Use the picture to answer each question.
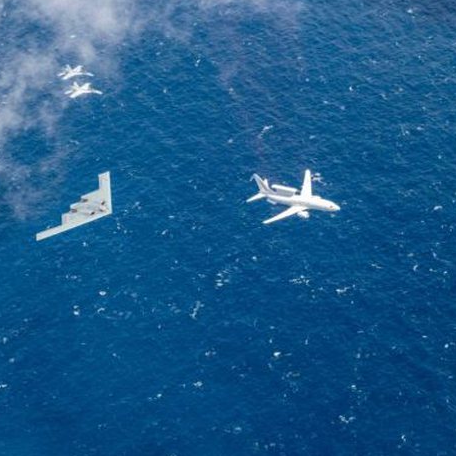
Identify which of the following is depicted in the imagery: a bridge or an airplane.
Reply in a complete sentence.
It is an airplane that can be seen here.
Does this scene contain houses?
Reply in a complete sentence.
No, I can't see a single house in this photo.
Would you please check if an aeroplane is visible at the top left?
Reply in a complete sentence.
Yes, the scene does show an aeroplane at the top left.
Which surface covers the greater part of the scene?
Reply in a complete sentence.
Most of the picture is covered by water.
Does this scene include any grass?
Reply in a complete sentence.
No, no grass is visible.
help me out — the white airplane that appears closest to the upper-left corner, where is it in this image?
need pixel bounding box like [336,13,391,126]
[60,64,95,80]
